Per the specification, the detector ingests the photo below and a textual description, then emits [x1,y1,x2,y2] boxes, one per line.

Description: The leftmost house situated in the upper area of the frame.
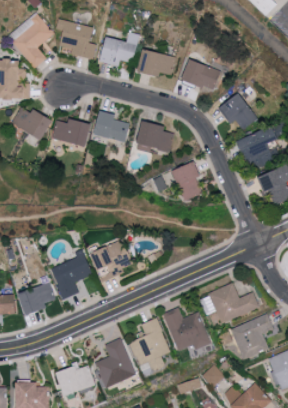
[0,60,30,100]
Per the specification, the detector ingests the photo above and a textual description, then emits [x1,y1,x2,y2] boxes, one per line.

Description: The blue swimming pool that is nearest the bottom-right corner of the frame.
[134,240,160,254]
